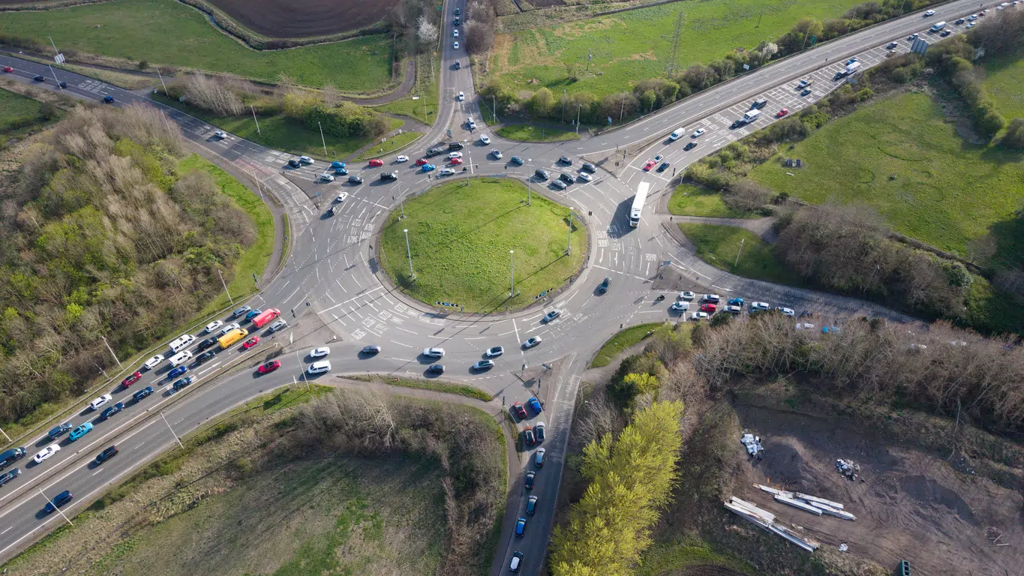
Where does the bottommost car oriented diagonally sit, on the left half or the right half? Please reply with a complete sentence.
You can find the bottommost car oriented diagonally on the left side of the picture.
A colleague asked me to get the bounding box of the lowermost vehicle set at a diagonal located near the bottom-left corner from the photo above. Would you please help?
[46,491,71,511]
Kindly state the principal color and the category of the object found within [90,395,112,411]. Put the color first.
white car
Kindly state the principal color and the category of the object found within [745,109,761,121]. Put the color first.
white vehicle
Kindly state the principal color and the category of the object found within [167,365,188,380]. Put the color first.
blue car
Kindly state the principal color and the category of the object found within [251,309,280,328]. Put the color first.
red vehicle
